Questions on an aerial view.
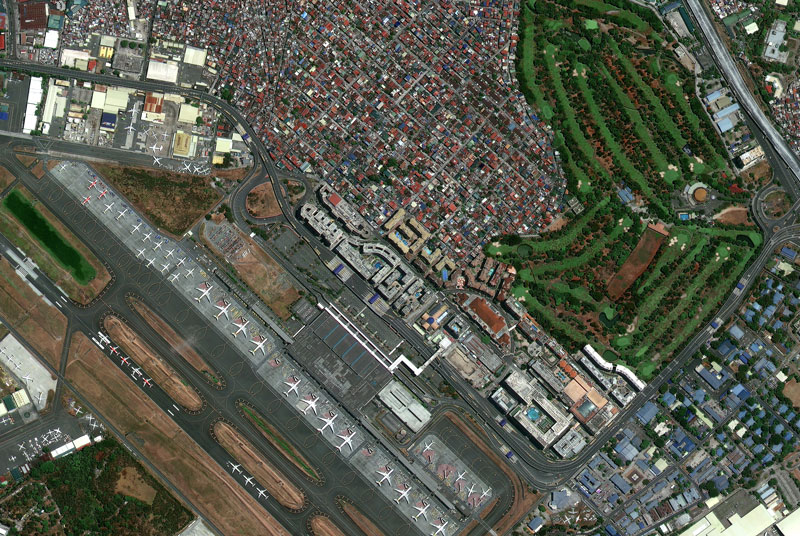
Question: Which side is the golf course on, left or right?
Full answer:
The golf course is on the right side of the image.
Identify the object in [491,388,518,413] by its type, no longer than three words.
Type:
building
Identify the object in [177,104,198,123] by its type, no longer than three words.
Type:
hangar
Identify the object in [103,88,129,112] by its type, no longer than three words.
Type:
hangar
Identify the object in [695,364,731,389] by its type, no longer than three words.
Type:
building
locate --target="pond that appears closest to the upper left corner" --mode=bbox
[3,189,91,284]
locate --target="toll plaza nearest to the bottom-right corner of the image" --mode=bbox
[707,317,723,334]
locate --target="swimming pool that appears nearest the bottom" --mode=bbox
[525,406,541,420]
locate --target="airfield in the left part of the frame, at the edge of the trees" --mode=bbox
[0,136,529,536]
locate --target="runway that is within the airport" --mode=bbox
[0,228,311,536]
